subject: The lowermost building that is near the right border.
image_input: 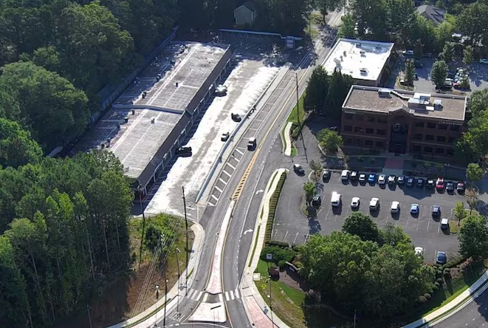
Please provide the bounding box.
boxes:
[341,85,470,156]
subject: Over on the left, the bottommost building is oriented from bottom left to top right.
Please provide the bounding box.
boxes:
[82,40,240,199]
